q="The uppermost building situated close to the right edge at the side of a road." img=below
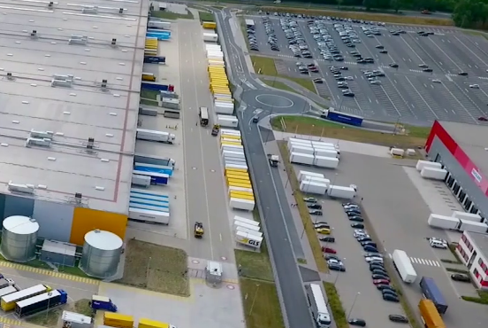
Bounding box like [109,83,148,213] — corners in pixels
[425,126,488,235]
